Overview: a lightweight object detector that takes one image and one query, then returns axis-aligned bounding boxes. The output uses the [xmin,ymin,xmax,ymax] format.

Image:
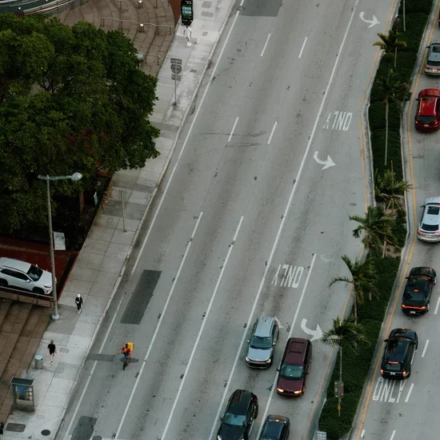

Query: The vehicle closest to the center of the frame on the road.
[245,307,285,365]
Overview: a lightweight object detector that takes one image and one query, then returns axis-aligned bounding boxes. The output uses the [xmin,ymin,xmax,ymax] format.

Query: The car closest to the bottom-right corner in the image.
[381,321,422,375]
